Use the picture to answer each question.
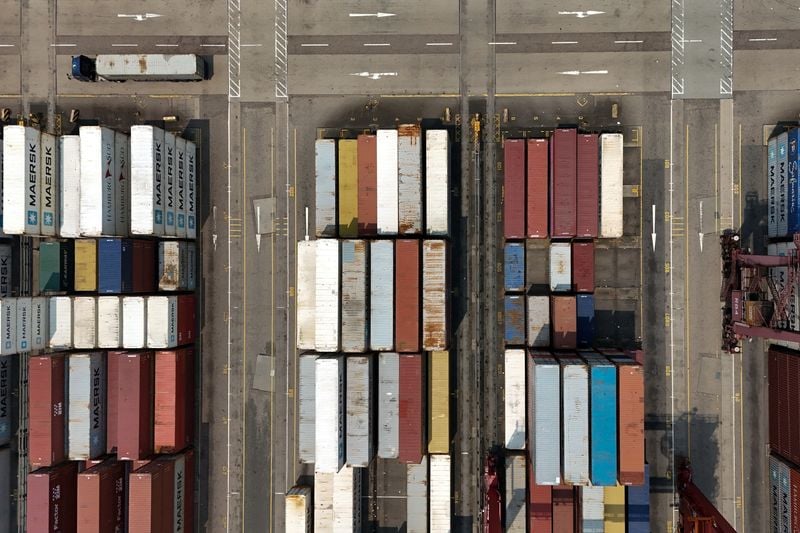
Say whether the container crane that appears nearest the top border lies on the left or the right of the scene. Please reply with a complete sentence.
You can find the container crane that appears nearest the top border on the right side of the picture.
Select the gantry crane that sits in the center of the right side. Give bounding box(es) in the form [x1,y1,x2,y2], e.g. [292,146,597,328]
[720,234,800,352]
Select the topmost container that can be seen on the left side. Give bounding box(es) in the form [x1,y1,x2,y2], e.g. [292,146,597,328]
[97,54,204,81]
